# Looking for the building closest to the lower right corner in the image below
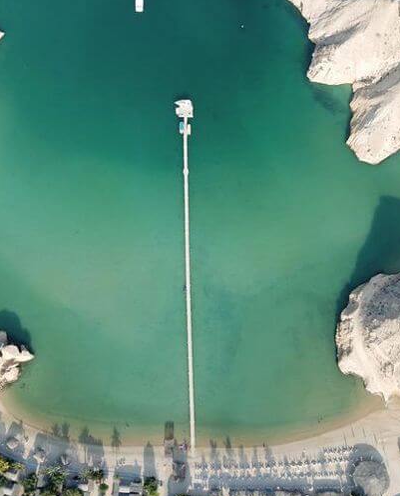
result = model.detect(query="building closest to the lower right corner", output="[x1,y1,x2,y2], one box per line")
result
[353,463,389,496]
